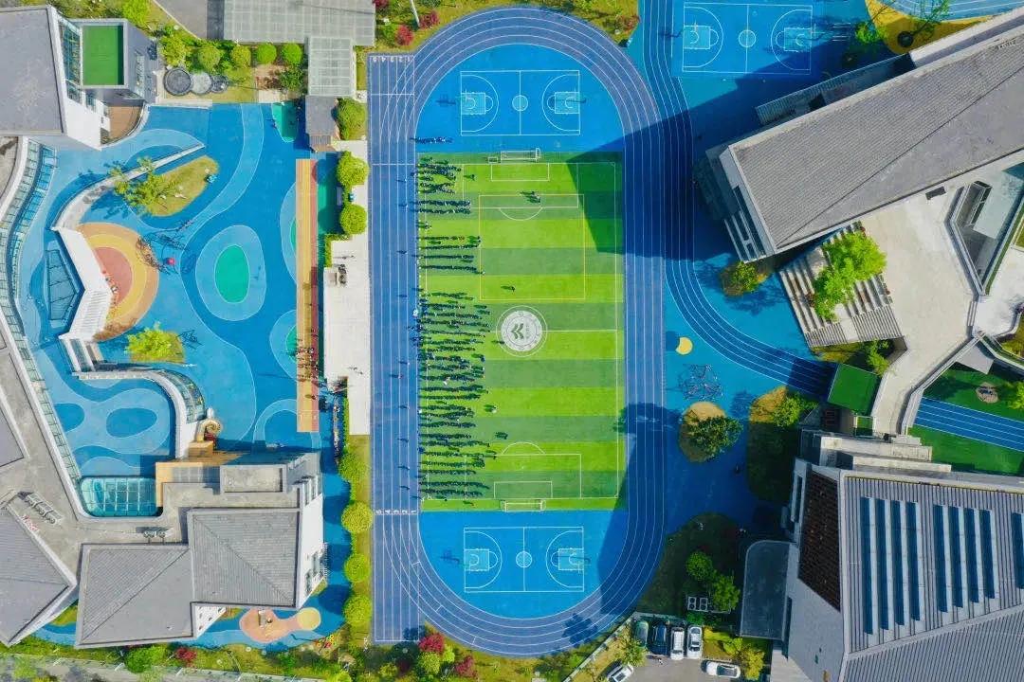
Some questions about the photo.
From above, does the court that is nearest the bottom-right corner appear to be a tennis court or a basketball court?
basketball court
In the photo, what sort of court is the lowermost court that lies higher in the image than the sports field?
basketball court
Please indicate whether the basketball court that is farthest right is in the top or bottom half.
top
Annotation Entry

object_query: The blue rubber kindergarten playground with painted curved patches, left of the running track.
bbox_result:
[15,97,352,650]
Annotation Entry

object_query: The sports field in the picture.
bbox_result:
[418,151,627,512]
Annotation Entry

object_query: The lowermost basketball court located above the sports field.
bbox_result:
[461,70,580,135]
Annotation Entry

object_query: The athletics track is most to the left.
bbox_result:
[296,159,318,432]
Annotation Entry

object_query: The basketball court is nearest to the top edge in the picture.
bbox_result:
[672,0,821,79]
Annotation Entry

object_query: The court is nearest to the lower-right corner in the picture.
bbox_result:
[464,527,584,593]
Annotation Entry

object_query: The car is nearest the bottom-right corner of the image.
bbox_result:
[705,660,740,678]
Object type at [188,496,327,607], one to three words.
building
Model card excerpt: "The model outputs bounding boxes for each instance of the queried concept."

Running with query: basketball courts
[461,70,580,135]
[464,527,584,593]
[672,0,821,79]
